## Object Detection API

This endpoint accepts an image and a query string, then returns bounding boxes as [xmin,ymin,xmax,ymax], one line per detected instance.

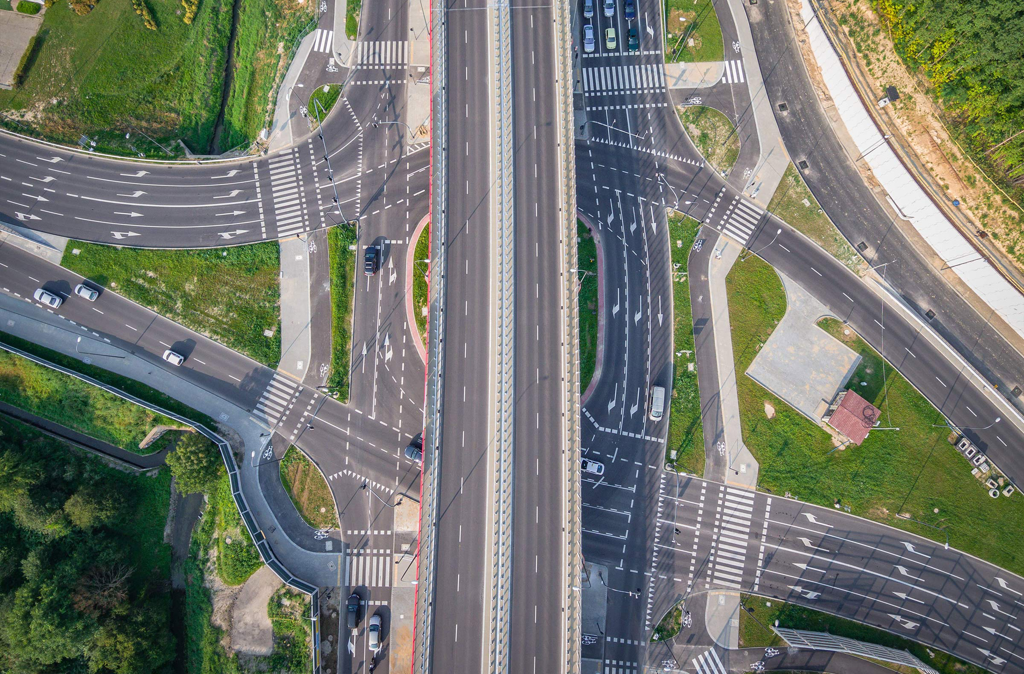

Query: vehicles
[582,0,595,20]
[648,385,665,421]
[75,285,100,301]
[603,0,616,18]
[623,0,636,22]
[582,458,605,475]
[582,25,596,54]
[363,247,378,277]
[626,27,640,52]
[604,27,618,50]
[367,614,383,650]
[345,593,362,629]
[405,445,422,462]
[163,350,186,367]
[34,289,64,309]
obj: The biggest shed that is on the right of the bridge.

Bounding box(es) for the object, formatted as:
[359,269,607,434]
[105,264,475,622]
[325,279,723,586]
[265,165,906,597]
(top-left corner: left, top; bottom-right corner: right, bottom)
[822,389,881,445]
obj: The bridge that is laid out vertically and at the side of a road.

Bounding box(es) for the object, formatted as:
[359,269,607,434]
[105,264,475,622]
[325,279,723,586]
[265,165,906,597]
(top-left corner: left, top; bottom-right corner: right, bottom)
[411,0,583,674]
